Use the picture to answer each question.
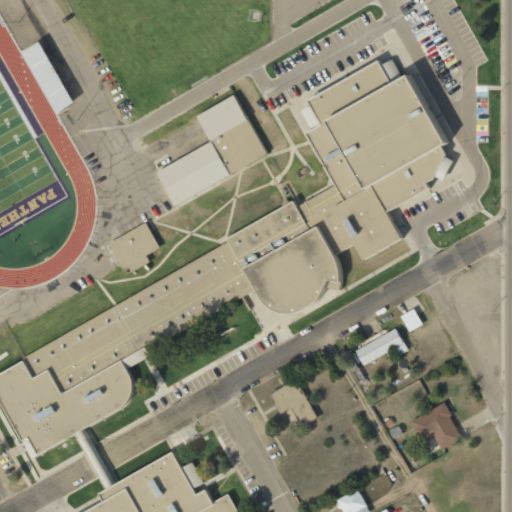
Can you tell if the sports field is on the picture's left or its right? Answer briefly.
left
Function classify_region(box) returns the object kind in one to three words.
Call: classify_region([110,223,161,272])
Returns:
building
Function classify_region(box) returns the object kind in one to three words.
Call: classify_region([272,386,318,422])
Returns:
house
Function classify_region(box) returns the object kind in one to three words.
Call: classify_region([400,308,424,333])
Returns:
building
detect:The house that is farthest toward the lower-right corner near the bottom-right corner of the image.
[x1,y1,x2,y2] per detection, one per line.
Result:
[412,406,464,452]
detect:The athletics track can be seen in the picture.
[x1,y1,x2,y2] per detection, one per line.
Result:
[0,8,98,288]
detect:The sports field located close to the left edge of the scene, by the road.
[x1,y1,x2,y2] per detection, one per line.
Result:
[0,54,76,266]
